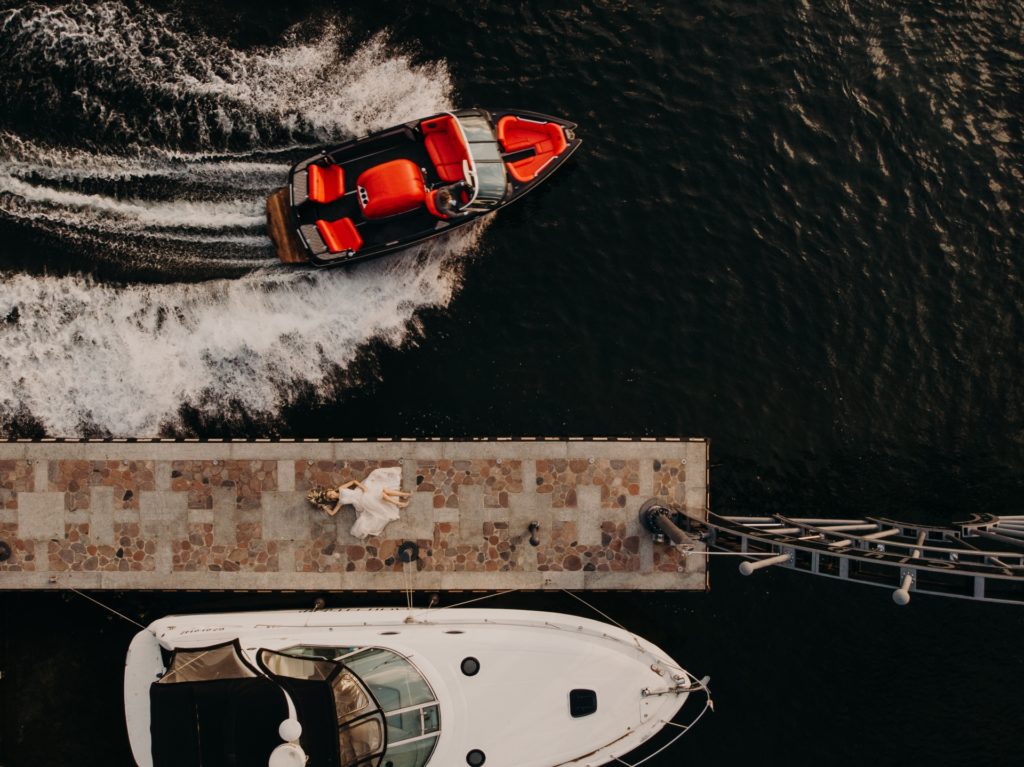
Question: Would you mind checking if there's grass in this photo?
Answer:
No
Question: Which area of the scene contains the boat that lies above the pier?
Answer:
top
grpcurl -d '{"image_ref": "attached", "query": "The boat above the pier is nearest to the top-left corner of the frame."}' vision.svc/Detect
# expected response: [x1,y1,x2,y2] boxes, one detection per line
[266,106,582,267]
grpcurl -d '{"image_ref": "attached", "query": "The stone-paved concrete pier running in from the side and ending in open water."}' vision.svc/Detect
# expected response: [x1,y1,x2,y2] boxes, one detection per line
[0,435,709,594]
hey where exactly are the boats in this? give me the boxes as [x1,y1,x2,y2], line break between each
[266,106,582,267]
[126,608,713,767]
